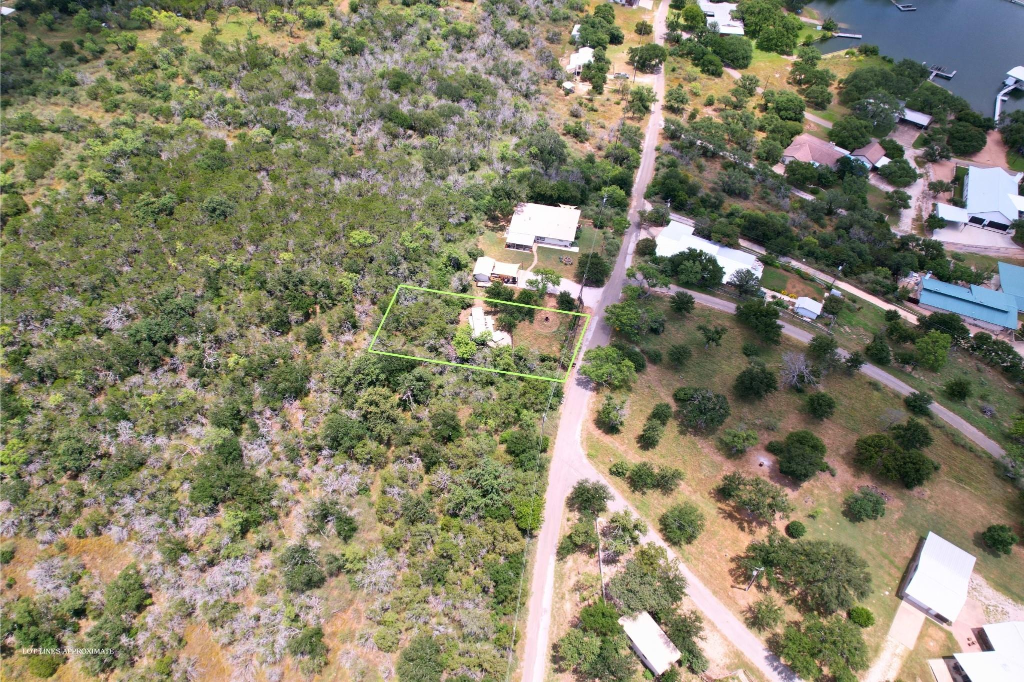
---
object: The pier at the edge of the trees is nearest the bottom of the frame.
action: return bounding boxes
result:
[991,84,1018,127]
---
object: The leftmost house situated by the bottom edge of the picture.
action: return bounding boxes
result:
[622,609,683,678]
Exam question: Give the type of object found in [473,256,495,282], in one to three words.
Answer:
shed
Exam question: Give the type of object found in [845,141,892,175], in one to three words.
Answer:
building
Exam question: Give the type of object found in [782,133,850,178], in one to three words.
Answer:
house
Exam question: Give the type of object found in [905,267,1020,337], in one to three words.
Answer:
house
